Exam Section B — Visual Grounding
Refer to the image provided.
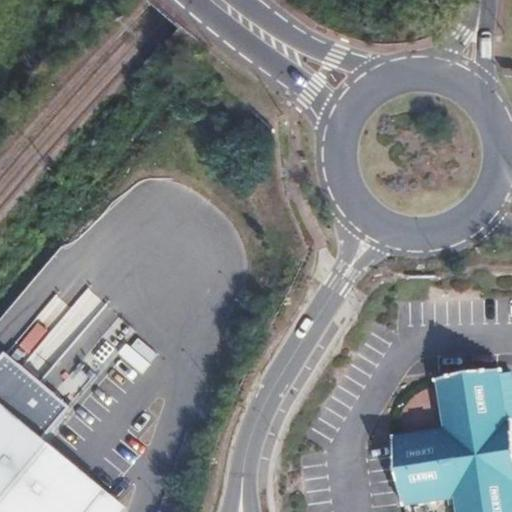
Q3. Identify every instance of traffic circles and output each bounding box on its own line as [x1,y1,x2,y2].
[315,50,512,260]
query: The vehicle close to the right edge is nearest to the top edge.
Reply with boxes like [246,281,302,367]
[480,32,492,60]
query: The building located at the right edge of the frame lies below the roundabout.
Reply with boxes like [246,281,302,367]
[389,366,512,512]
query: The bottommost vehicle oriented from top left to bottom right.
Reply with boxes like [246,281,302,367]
[92,468,114,486]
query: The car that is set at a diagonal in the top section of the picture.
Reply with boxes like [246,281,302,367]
[285,66,306,86]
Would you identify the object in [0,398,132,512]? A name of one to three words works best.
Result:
warehouse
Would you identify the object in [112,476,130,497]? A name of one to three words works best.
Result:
car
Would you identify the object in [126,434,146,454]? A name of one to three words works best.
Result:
car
